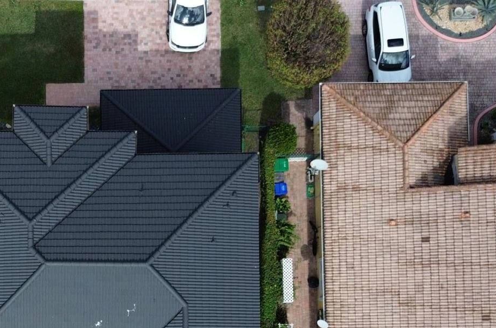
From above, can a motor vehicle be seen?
Yes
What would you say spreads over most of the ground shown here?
buildings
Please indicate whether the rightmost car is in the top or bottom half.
top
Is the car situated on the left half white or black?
white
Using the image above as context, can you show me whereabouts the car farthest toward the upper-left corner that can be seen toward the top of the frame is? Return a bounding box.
[165,0,213,52]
